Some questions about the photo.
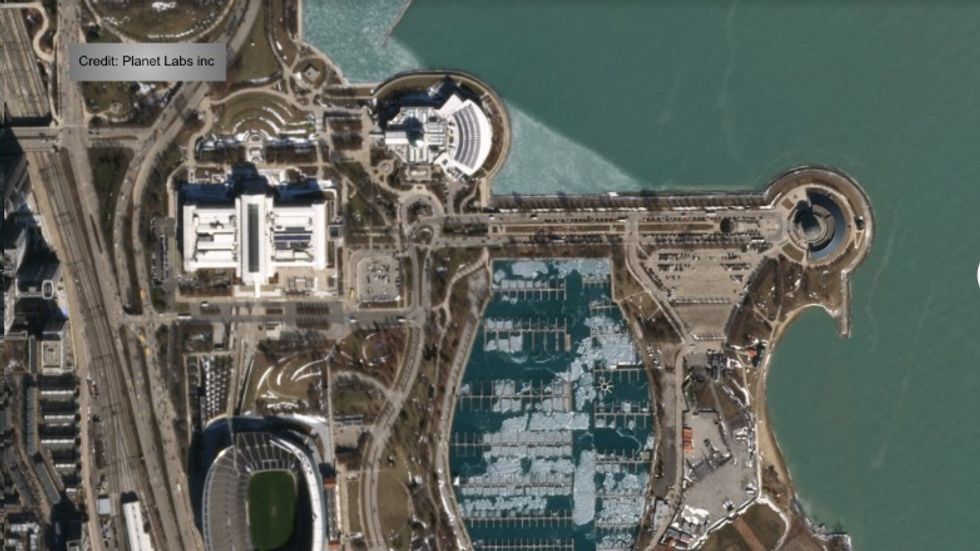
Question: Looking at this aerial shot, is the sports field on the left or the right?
left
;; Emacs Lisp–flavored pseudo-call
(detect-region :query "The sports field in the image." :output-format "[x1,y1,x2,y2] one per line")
[246,468,300,551]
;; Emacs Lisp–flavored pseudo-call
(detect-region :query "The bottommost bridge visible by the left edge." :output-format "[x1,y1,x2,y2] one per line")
[0,127,70,151]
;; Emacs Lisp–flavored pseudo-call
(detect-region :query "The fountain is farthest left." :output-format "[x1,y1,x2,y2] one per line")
[247,131,263,148]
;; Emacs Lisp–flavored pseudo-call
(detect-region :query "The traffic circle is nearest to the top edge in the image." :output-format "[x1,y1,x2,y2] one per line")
[400,187,442,231]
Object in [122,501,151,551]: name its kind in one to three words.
shed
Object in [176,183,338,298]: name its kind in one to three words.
building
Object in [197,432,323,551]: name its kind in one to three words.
stadium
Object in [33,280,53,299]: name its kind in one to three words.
building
